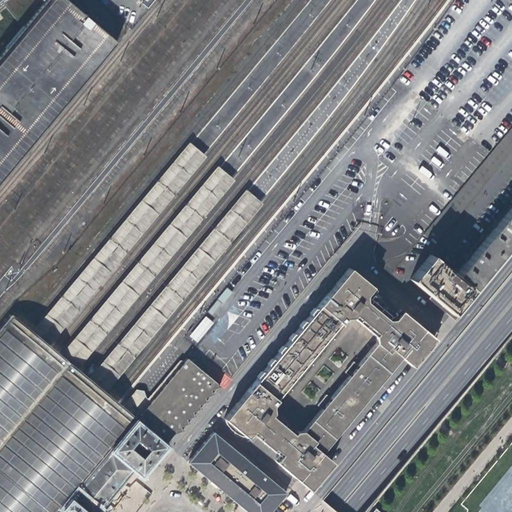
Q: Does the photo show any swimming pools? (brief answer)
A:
No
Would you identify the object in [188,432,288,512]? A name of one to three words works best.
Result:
building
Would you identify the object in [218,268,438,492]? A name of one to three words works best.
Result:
building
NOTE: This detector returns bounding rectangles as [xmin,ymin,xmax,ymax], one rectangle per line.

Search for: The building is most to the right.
[458,206,512,290]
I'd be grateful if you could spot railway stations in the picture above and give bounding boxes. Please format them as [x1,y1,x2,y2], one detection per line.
[0,314,136,512]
